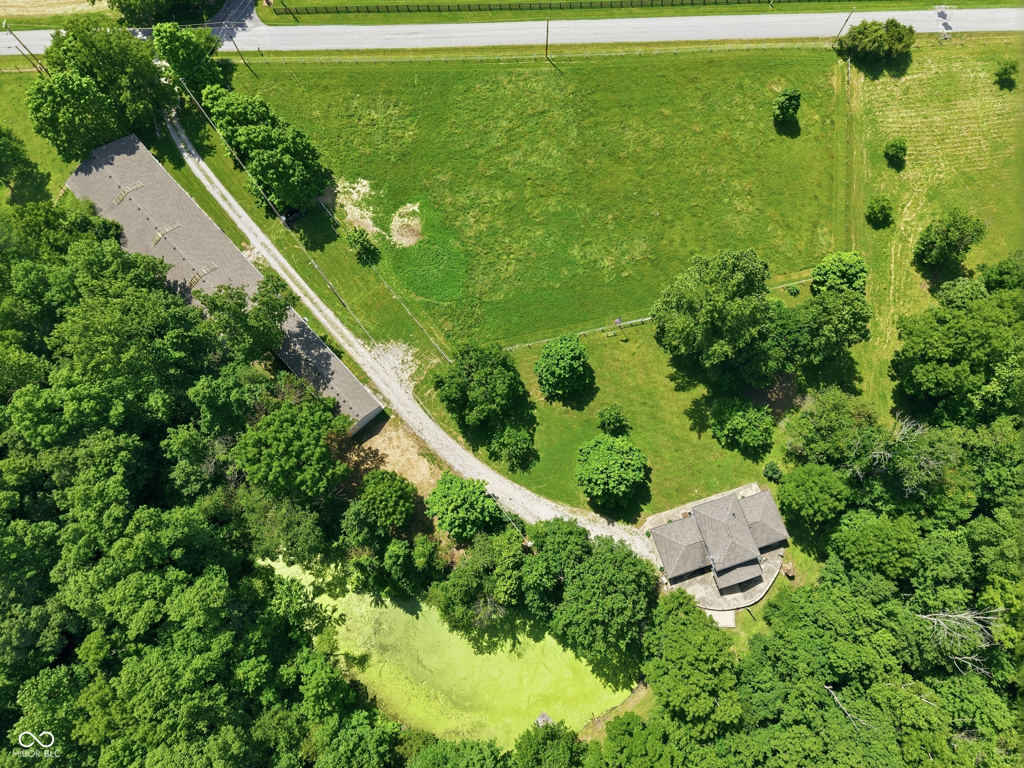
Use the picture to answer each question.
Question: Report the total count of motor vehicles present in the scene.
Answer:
1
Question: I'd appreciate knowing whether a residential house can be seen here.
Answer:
Yes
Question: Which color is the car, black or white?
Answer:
black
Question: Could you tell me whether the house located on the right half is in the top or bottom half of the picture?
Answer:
bottom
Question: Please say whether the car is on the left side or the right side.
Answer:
left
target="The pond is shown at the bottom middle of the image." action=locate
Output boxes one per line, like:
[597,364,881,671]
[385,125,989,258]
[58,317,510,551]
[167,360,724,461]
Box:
[256,555,639,760]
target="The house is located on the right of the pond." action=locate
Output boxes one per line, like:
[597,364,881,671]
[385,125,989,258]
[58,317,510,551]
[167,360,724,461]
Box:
[649,489,789,590]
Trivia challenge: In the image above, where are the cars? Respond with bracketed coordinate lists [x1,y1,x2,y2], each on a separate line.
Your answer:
[278,207,305,227]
